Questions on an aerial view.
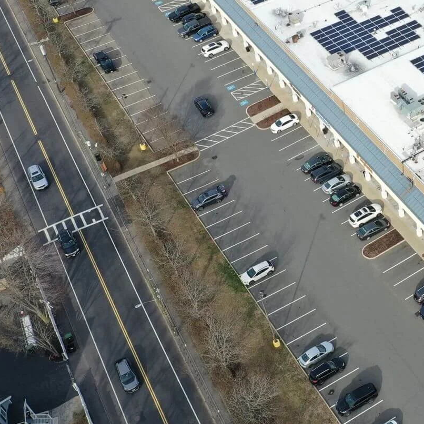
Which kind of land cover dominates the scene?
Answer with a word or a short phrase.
paved ground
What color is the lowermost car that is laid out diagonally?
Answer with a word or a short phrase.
black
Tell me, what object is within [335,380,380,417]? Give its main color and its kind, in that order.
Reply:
black car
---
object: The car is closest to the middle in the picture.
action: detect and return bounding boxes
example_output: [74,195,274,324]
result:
[191,179,229,210]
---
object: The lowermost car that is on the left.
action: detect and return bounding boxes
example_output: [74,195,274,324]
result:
[114,357,142,393]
